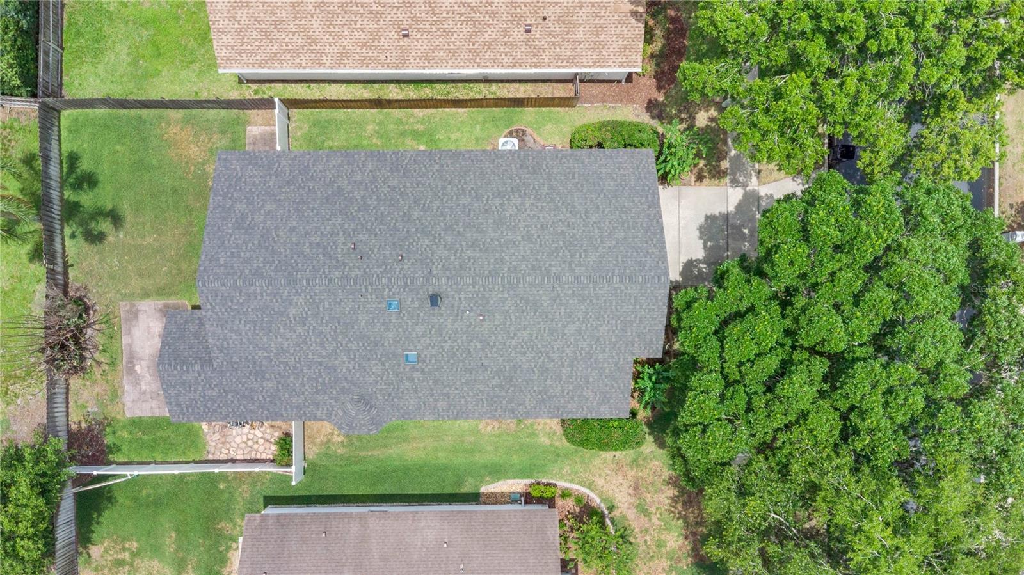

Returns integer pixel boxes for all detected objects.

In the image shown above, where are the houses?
[157,149,671,433]
[236,500,561,575]
[206,0,646,84]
